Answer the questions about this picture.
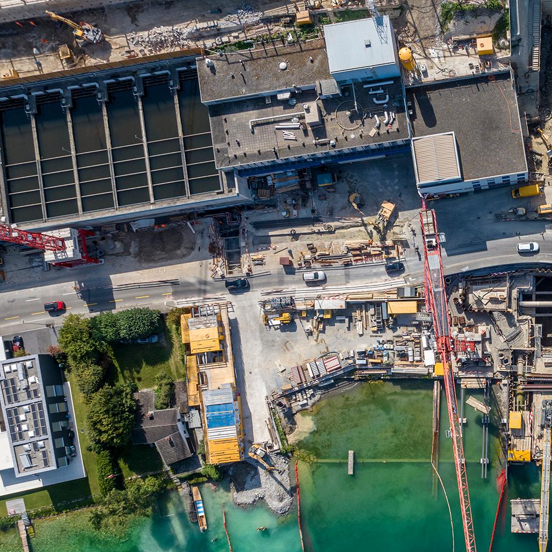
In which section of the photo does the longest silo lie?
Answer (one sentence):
The longest silo sits in the top right section of the image.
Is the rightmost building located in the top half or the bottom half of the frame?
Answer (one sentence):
You can find the rightmost building in the top half.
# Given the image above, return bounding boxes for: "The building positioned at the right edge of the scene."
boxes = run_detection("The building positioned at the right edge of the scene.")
[405,75,527,204]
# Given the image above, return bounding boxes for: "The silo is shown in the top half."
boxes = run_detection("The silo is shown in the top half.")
[399,47,421,81]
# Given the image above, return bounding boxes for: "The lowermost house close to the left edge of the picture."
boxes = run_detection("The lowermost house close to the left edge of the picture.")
[0,355,87,496]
